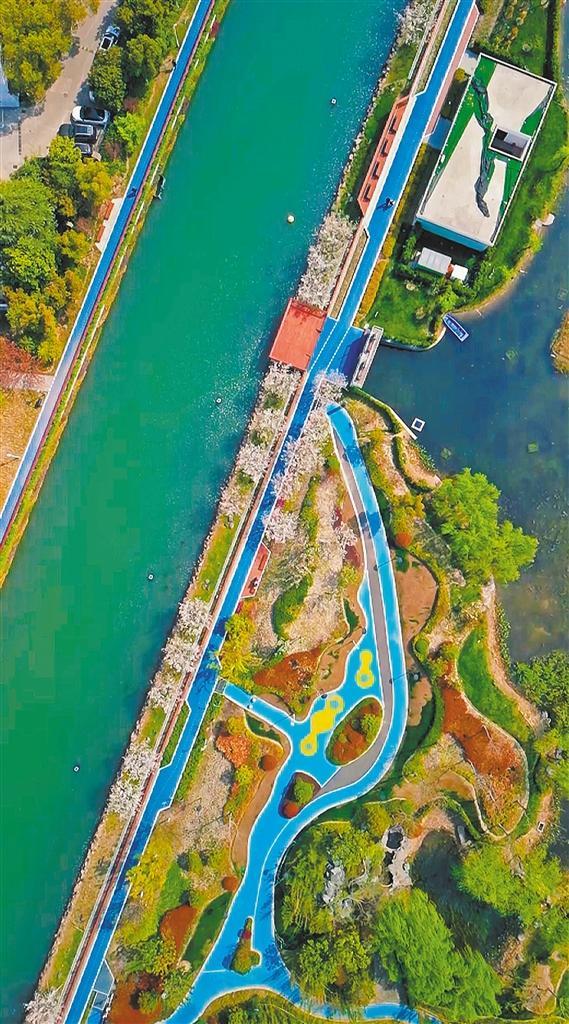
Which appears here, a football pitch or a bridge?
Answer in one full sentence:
Of the two, only a bridge appears.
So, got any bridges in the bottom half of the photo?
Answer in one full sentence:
No, looking in the bottom half of the photo, there is no bridge.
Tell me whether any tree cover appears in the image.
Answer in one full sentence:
Yes, some tree cover is visible.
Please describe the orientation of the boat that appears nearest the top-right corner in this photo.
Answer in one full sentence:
In this picture, the boat that appears nearest the top-right corner is oriented at an angle.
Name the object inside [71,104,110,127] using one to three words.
car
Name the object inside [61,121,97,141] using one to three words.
car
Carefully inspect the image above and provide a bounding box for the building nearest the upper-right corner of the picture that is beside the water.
[413,53,557,254]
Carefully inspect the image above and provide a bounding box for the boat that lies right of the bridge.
[446,316,469,342]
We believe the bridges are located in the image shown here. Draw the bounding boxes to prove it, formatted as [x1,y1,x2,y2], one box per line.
[350,328,382,390]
